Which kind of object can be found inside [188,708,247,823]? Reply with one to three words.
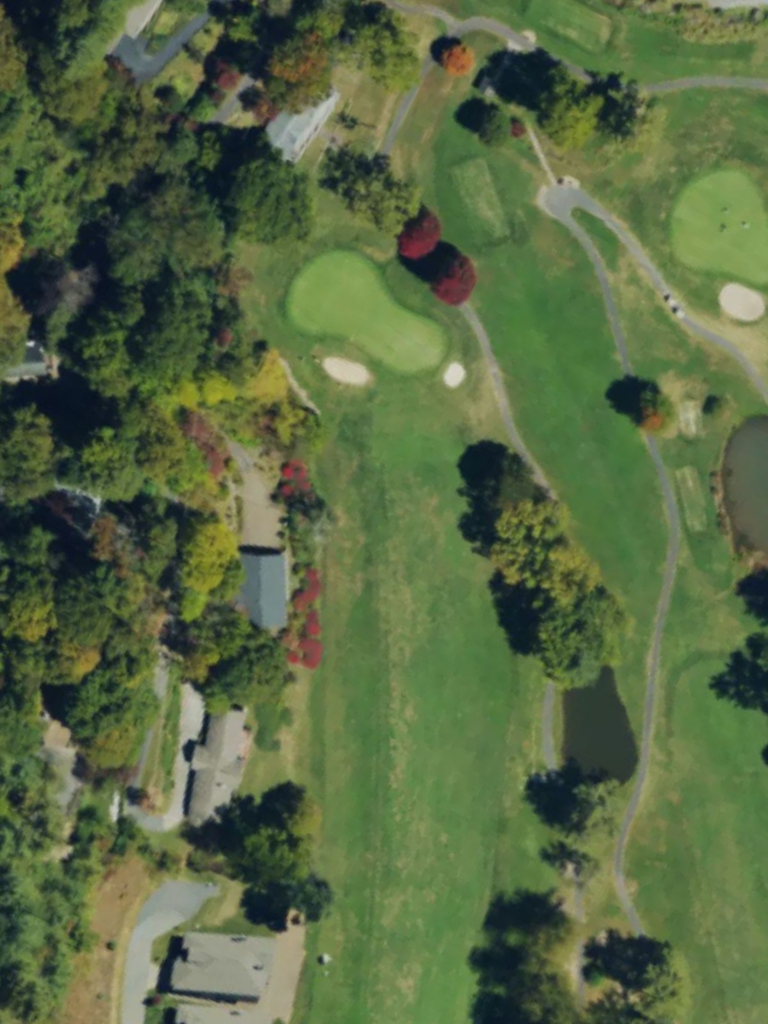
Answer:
house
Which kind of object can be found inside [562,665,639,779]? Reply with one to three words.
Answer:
pond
